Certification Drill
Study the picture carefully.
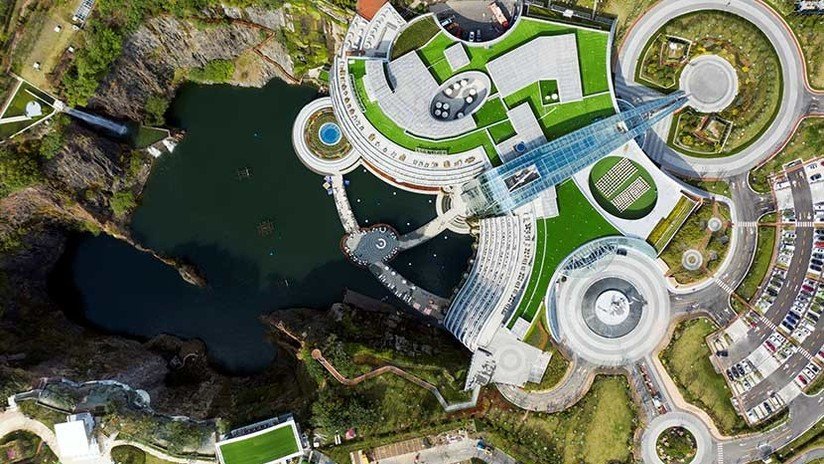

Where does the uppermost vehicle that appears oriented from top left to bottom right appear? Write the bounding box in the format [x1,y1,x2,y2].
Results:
[488,0,512,27]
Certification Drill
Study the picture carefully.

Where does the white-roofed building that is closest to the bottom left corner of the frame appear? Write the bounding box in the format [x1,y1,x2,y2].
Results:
[55,411,105,464]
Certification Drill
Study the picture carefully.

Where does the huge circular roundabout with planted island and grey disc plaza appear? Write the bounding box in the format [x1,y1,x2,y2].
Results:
[613,0,807,177]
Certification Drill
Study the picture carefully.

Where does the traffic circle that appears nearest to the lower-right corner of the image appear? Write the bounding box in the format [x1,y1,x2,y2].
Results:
[637,410,712,464]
